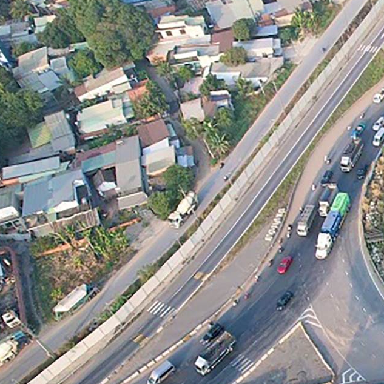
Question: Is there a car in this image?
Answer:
Yes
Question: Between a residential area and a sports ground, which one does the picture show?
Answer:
residential area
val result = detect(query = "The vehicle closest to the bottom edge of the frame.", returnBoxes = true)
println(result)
[146,360,177,384]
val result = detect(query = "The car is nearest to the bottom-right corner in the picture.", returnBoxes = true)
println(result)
[276,293,295,312]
